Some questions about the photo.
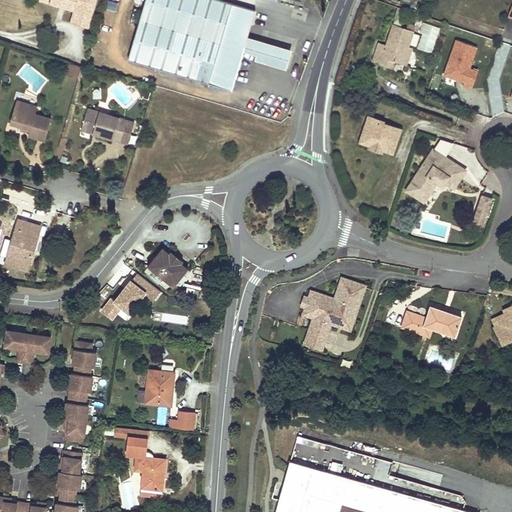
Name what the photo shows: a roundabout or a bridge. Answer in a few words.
roundabout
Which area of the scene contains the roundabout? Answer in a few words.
center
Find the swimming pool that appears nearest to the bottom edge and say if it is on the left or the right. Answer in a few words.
left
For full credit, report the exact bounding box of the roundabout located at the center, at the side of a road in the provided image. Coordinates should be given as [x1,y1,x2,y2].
[224,156,338,272]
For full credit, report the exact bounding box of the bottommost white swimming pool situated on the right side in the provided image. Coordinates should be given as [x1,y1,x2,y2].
[424,345,460,373]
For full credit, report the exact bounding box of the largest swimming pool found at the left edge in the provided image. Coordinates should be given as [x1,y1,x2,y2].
[16,62,48,95]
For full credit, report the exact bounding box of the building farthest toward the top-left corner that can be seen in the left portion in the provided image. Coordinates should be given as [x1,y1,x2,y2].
[42,0,100,30]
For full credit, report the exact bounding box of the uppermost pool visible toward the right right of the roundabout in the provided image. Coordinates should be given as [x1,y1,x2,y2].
[412,212,452,243]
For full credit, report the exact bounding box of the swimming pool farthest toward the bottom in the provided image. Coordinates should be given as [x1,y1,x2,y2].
[120,479,140,512]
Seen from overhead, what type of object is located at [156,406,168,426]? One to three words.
swimming pool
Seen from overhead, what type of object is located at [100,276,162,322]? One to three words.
house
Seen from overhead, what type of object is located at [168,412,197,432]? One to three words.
shed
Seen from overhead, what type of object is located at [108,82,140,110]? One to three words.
swimming pool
